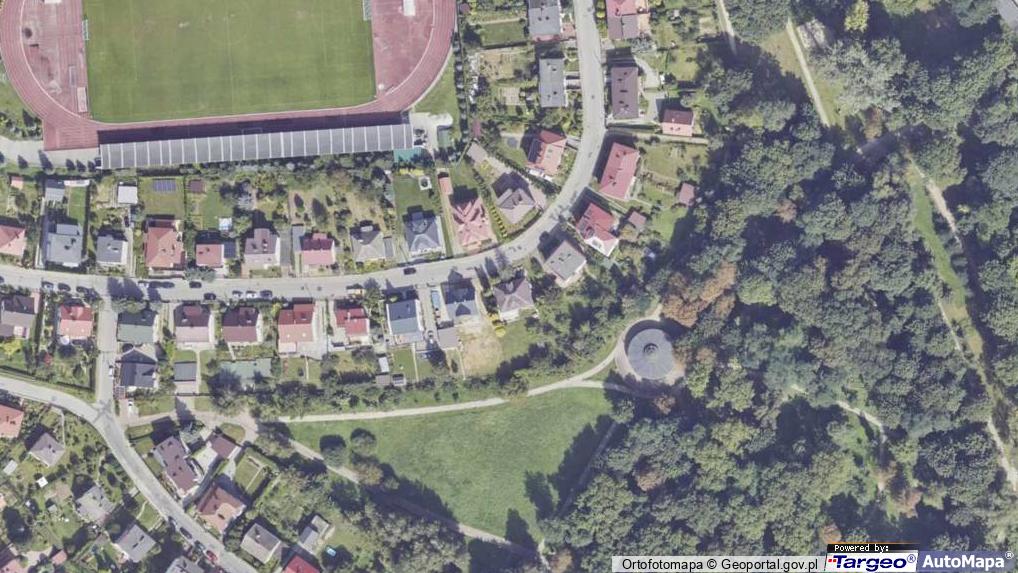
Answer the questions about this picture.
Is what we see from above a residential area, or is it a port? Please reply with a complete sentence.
This image shows a residential area.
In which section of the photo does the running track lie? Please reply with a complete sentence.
The running track appears toward the top left of the photo.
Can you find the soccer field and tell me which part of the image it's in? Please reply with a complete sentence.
The soccer field appears toward the top left of the photo.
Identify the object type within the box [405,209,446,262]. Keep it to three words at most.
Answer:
house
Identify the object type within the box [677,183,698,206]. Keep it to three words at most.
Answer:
shed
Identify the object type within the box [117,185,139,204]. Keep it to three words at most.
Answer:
building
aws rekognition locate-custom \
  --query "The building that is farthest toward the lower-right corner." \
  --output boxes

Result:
[627,329,675,377]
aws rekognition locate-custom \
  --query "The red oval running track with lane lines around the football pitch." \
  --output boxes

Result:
[0,0,459,151]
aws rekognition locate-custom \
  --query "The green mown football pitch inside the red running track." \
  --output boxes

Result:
[83,0,379,122]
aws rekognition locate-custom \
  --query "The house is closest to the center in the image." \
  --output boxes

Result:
[494,280,532,321]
